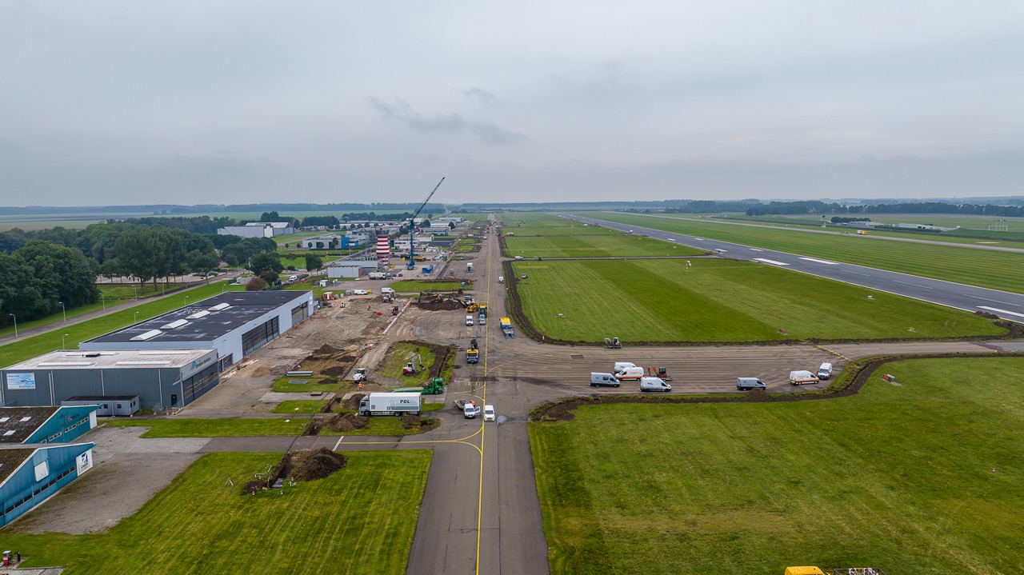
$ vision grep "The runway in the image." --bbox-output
[550,212,1024,323]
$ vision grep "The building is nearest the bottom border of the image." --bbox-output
[0,443,98,529]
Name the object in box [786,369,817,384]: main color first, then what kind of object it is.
white vehicle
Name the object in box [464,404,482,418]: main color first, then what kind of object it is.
white vehicle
